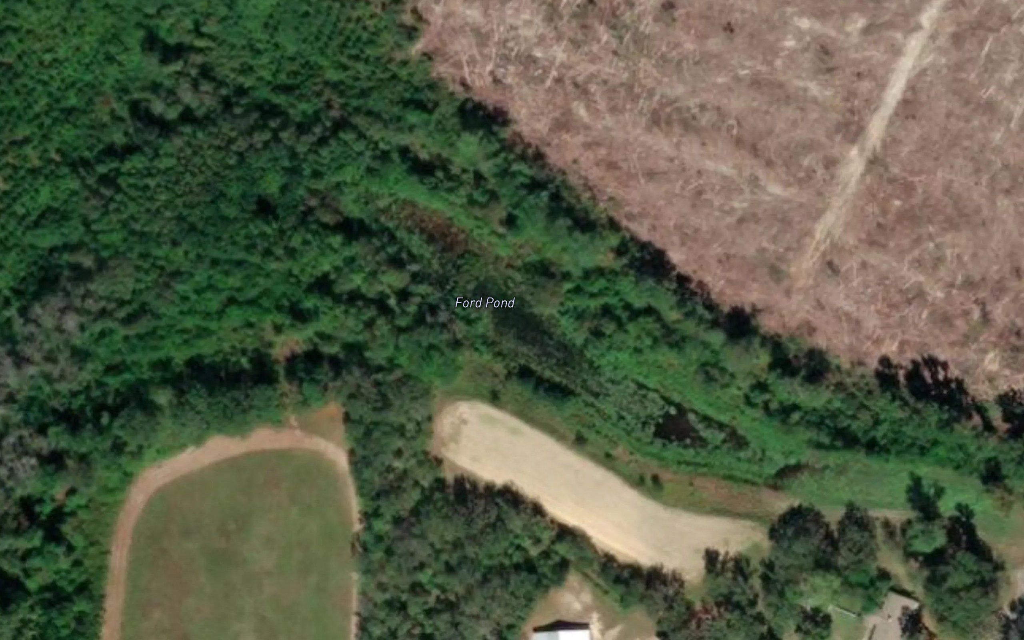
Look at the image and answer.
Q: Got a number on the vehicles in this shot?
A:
0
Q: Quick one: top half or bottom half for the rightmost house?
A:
bottom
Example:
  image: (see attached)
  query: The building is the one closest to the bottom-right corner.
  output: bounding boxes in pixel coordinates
[874,592,919,640]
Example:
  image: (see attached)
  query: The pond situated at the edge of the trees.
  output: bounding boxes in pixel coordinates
[481,288,744,450]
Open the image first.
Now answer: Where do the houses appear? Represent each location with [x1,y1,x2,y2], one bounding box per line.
[533,632,590,640]
[874,592,919,640]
